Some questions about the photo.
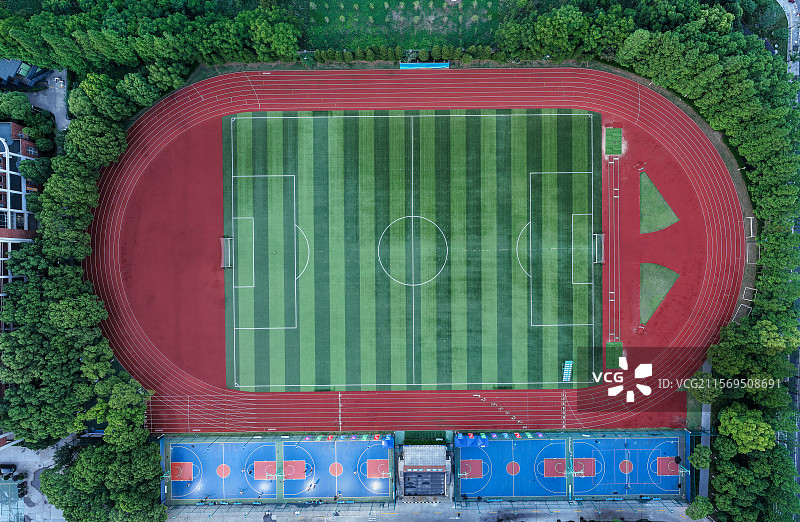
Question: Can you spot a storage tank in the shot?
No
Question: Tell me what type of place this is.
sports ground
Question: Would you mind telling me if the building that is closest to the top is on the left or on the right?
left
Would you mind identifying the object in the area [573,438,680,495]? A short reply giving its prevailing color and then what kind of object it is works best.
blue basketball court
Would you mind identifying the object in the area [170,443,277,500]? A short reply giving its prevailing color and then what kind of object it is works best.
blue basketball court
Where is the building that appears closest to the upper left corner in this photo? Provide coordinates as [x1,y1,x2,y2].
[0,57,62,93]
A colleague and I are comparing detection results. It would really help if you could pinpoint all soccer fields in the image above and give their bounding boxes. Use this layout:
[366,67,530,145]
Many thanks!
[221,109,605,392]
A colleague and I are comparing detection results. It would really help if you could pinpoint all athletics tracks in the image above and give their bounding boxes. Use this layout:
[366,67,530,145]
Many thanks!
[80,68,745,434]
